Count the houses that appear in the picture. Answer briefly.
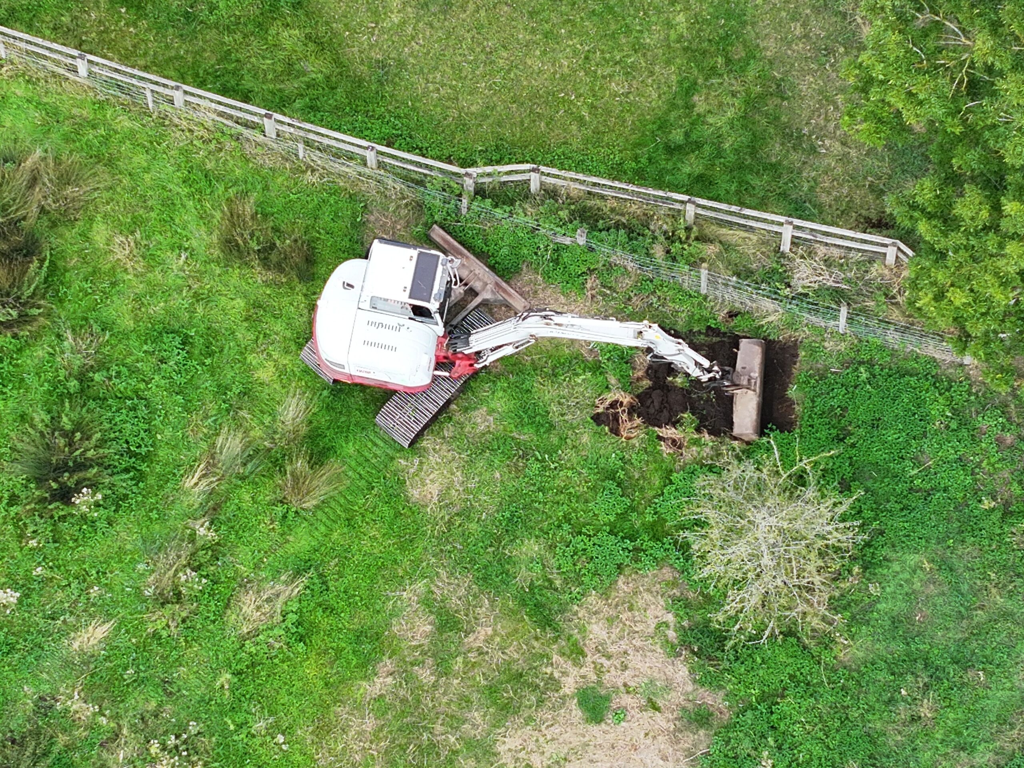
zero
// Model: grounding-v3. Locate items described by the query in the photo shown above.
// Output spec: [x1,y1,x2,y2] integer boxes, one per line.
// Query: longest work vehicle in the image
[297,218,764,449]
